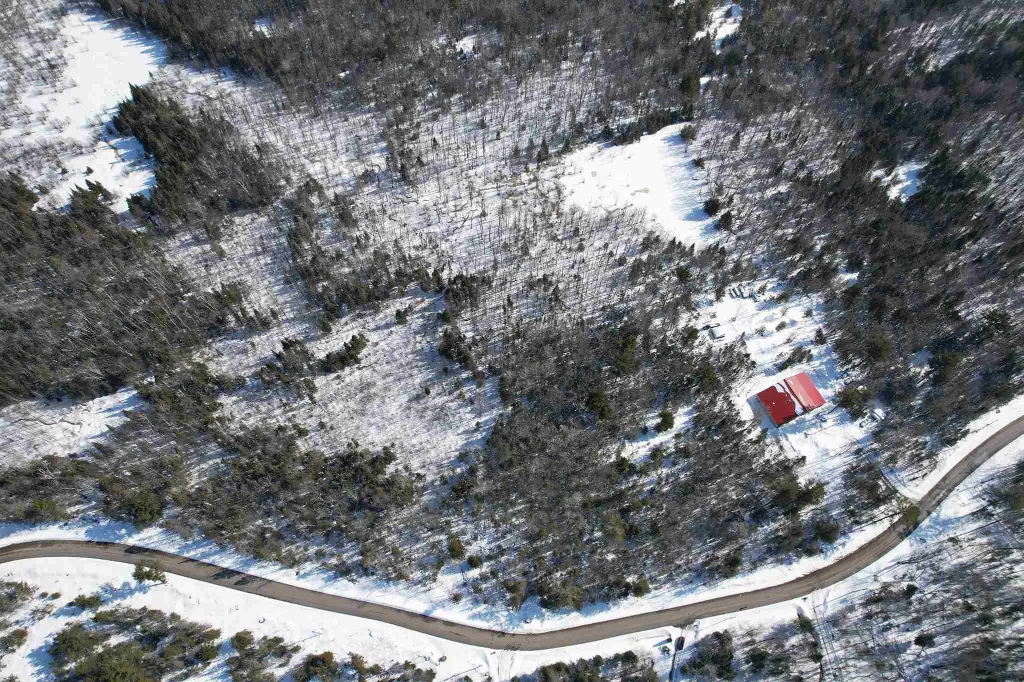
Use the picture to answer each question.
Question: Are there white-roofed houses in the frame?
No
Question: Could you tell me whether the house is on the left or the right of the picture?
right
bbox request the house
[756,372,825,426]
